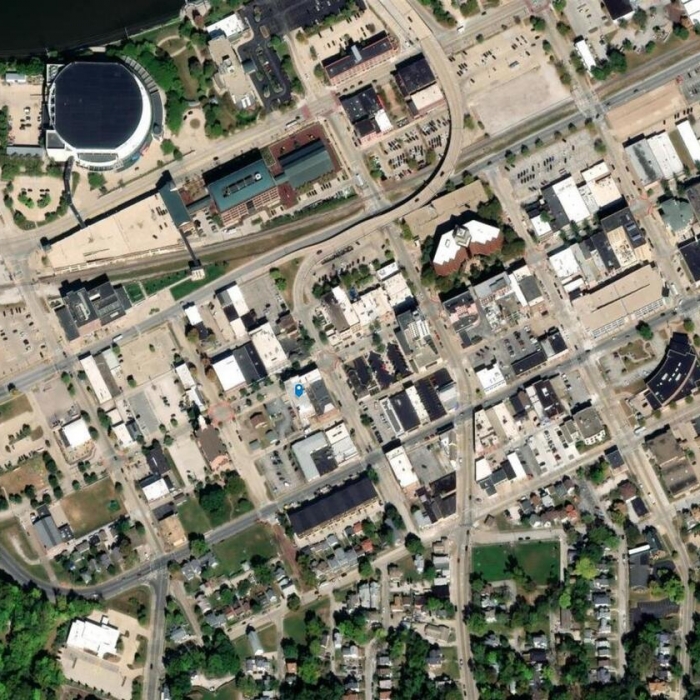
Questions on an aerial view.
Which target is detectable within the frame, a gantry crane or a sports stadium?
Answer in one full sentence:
Looking from above, you can make out a sports stadium.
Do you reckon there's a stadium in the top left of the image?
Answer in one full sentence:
Yes, a stadium can be seen in the top left of the image.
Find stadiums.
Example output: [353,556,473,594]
[46,53,164,176]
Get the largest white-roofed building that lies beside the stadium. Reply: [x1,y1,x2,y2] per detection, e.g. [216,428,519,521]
[50,193,181,275]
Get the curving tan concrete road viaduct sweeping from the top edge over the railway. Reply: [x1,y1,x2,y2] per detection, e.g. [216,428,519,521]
[294,0,466,262]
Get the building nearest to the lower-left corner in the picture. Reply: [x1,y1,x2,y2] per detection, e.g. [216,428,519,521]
[66,620,122,662]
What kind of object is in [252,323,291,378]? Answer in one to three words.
building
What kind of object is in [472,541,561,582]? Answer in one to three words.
sports field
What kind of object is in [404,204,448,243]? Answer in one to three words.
building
